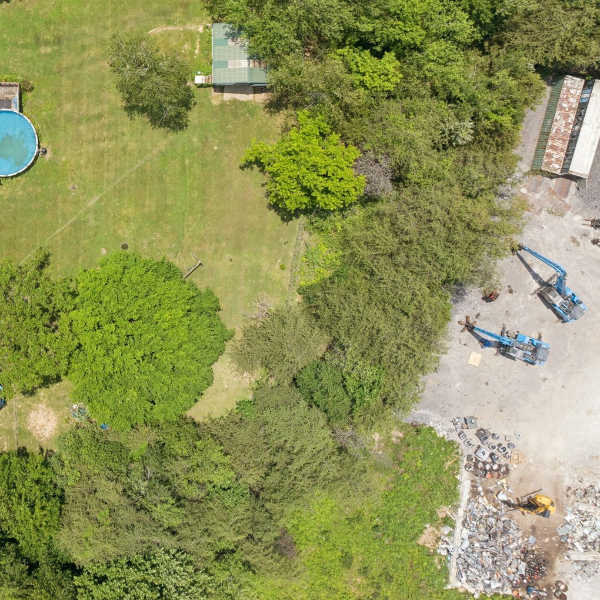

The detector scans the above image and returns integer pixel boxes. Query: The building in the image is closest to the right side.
[209,22,269,86]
